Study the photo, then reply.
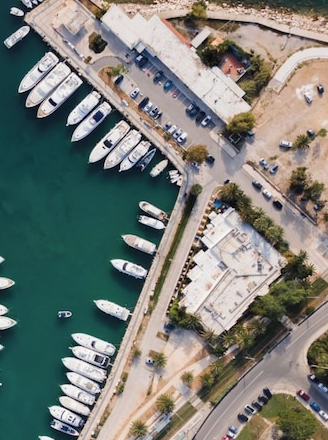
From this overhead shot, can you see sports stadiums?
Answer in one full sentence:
No, the photo shows no sports stadium.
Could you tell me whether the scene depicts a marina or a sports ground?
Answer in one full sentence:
This image shows a marina.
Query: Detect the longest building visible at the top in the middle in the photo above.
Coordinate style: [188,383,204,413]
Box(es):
[98,4,252,127]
